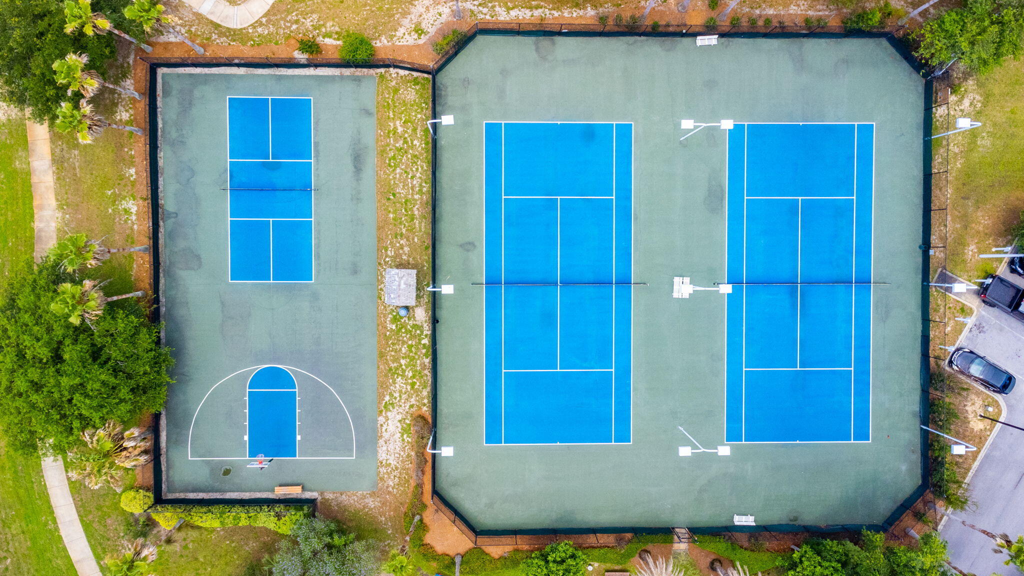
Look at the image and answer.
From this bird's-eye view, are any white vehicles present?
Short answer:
No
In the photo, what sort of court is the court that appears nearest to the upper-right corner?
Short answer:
tennis court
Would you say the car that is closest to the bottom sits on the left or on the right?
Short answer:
right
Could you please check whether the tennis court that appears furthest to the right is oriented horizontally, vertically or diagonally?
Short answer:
vertically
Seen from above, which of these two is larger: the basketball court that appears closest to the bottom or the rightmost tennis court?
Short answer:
the tennis court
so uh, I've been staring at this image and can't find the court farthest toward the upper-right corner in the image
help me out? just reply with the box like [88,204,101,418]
[725,123,875,443]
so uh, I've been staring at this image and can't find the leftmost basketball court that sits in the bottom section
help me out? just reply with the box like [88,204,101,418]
[190,365,355,460]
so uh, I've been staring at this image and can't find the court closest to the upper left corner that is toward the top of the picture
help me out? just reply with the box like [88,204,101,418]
[227,97,314,282]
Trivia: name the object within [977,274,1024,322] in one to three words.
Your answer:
truck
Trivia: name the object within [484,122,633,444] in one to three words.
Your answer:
tennis court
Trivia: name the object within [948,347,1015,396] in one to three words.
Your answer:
car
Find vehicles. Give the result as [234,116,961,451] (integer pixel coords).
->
[948,347,1015,396]
[1009,252,1024,280]
[977,274,1024,322]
